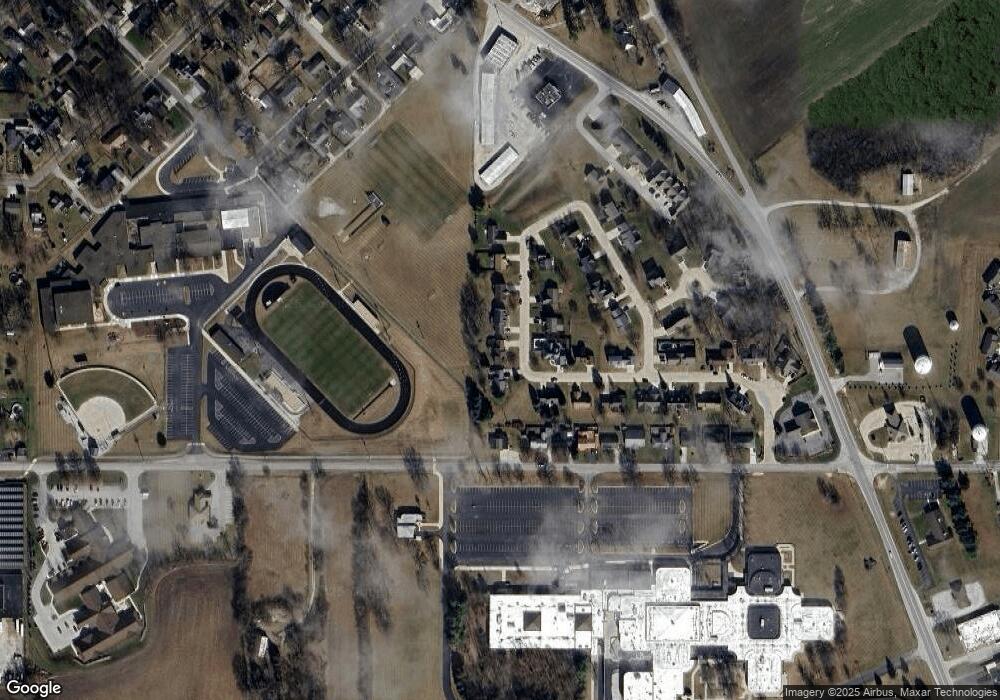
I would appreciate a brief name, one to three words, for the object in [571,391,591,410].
house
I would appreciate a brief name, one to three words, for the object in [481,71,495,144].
building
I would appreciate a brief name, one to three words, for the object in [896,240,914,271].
barn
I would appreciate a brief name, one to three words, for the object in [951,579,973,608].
building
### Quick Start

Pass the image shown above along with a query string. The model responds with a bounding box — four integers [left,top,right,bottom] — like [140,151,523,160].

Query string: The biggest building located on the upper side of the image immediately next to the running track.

[73,198,262,279]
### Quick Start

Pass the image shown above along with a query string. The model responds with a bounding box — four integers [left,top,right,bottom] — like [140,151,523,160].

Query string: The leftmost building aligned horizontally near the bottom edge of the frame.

[490,548,835,700]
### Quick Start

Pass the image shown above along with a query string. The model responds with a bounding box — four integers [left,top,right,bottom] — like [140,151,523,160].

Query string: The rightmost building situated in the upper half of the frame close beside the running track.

[285,224,317,257]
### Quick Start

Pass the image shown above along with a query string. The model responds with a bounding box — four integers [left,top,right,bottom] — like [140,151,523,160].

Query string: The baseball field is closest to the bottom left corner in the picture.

[57,369,159,457]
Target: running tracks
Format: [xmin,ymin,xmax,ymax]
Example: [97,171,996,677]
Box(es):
[217,265,410,434]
